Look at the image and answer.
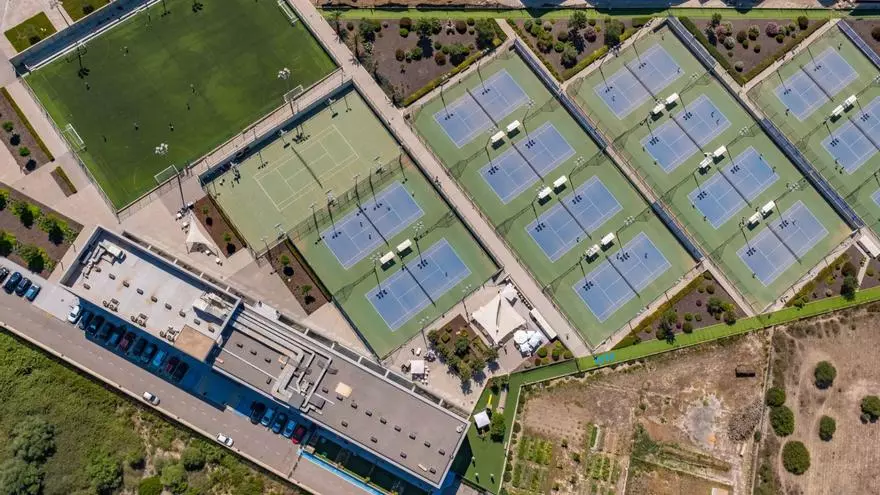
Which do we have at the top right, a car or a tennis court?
tennis court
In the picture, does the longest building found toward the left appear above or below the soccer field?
below it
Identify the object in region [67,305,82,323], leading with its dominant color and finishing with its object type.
white car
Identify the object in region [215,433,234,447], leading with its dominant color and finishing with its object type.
white vehicle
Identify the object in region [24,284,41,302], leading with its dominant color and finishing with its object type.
blue car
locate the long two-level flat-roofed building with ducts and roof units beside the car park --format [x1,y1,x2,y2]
[58,224,470,487]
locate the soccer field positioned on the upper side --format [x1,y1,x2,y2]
[26,0,339,211]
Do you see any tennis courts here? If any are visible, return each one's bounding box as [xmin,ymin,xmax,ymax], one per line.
[499,153,649,287]
[662,123,805,254]
[406,46,555,171]
[206,88,408,255]
[614,71,757,197]
[710,176,857,314]
[290,156,453,297]
[453,99,601,229]
[547,208,699,351]
[750,21,880,142]
[567,21,710,142]
[798,77,880,196]
[334,212,498,358]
